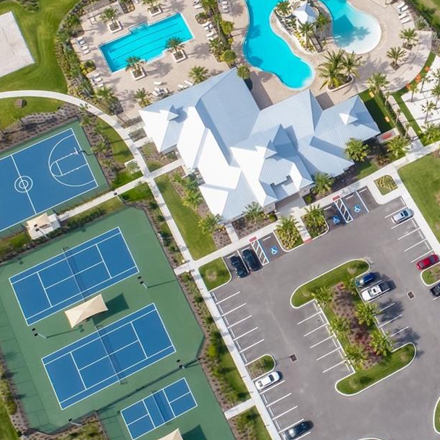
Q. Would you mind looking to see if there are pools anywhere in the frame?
Yes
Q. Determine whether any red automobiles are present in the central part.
No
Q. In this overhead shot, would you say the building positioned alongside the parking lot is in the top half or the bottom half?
top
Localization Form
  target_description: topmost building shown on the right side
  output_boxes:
[294,5,317,35]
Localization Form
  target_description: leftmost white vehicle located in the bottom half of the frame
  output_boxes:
[256,371,279,389]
